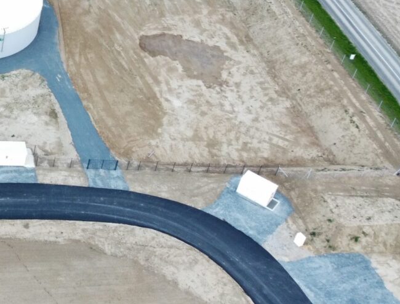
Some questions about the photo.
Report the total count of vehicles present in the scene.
0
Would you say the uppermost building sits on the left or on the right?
left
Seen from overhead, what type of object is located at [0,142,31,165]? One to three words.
building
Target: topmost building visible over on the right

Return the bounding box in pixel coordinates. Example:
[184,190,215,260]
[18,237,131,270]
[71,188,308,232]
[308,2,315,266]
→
[236,172,280,211]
